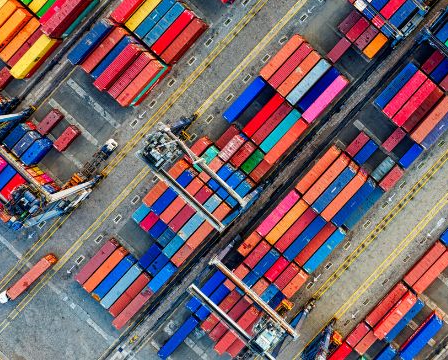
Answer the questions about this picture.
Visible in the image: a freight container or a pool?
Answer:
freight container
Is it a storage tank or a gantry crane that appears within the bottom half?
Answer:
gantry crane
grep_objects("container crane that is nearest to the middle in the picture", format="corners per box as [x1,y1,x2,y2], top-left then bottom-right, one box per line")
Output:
[135,107,275,234]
